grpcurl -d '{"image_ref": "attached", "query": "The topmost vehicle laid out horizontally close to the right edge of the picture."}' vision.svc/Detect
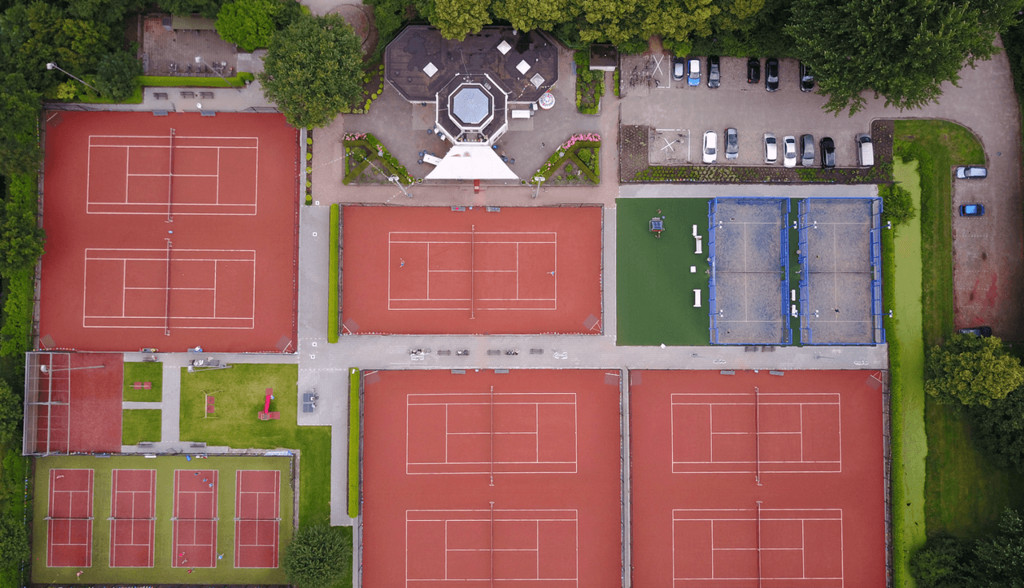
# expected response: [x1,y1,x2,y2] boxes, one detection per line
[956,164,990,179]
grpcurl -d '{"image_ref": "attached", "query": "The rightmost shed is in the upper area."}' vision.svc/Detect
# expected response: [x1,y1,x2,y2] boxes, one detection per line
[589,43,617,72]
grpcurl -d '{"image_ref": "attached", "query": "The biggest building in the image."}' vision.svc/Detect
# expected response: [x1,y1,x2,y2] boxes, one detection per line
[386,25,558,183]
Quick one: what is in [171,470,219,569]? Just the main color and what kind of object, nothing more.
red tennis court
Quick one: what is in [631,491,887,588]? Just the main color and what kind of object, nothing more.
red tennis court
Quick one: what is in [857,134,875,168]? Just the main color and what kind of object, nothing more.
white vehicle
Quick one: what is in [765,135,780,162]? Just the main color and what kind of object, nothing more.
white car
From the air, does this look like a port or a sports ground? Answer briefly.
sports ground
